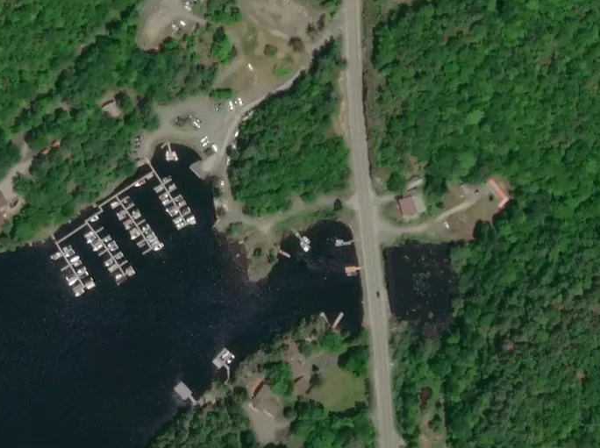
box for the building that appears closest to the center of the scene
[398,196,418,222]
